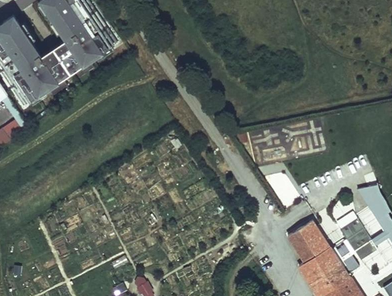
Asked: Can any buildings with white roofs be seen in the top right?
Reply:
No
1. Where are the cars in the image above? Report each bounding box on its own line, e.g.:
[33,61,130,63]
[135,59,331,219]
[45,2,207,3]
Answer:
[348,164,356,174]
[263,194,270,206]
[336,168,343,179]
[313,178,321,189]
[324,172,332,184]
[302,184,310,195]
[354,159,361,170]
[320,176,328,186]
[358,156,366,167]
[267,202,274,213]
[262,262,272,270]
[259,256,270,264]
